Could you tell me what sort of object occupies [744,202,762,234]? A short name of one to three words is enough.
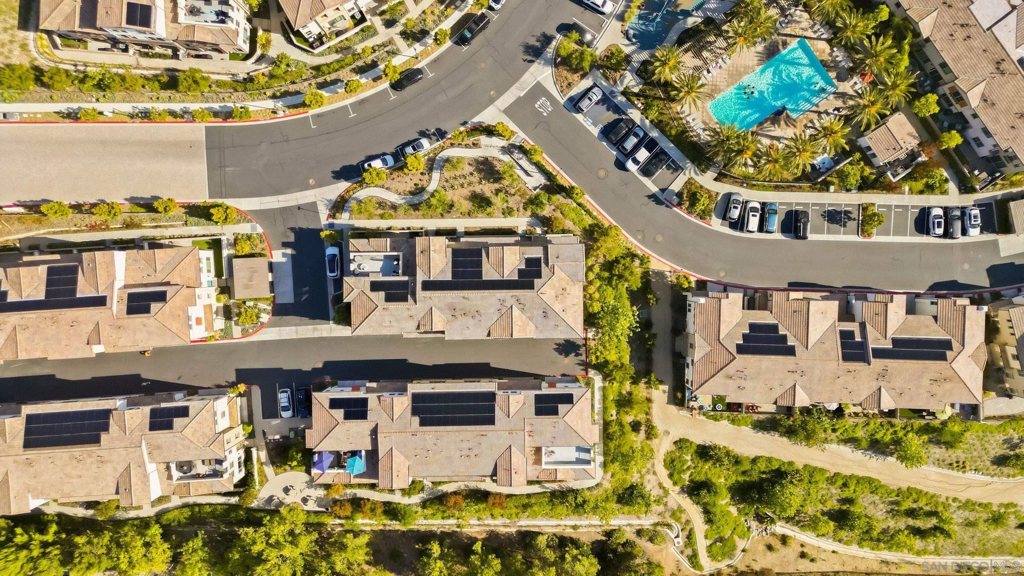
car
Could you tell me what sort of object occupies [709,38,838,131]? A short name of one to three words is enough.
swimming pool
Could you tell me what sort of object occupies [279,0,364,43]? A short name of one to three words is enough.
house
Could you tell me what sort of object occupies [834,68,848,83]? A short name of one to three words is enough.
umbrella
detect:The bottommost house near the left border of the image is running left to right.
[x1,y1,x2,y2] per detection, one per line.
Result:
[0,393,247,516]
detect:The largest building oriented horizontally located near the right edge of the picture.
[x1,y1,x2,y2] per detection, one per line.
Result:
[679,291,990,410]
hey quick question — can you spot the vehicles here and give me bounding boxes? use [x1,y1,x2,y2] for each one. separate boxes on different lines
[642,151,669,179]
[606,117,634,145]
[296,387,311,418]
[278,388,294,418]
[794,210,810,240]
[725,192,743,222]
[364,153,394,170]
[946,208,963,238]
[575,86,603,114]
[457,10,492,48]
[626,138,658,170]
[744,202,762,234]
[393,68,424,91]
[325,247,340,278]
[763,203,779,232]
[928,208,944,236]
[618,126,645,154]
[964,207,981,236]
[571,23,598,48]
[402,138,430,155]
